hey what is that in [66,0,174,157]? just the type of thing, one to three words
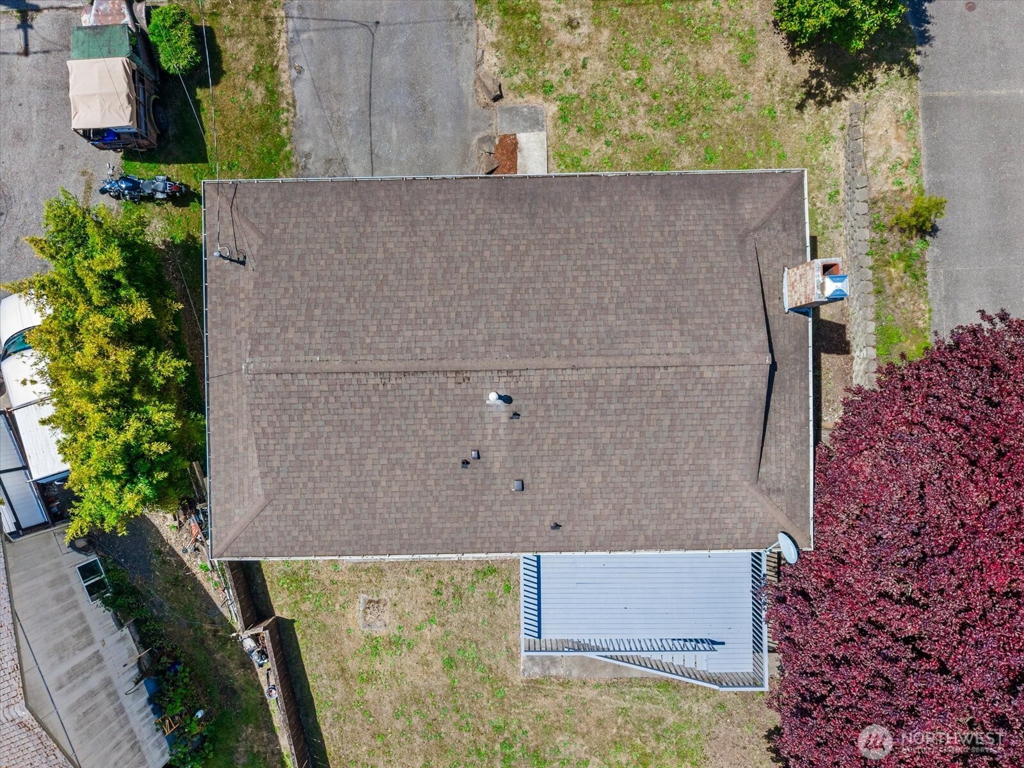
truck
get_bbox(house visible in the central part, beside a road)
[202,168,847,562]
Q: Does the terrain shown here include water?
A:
No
